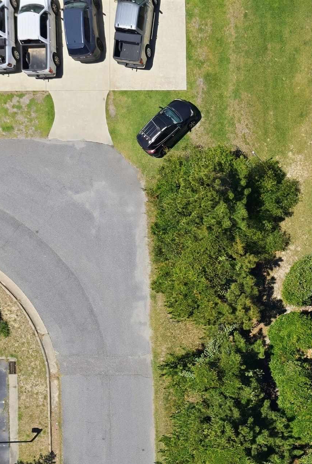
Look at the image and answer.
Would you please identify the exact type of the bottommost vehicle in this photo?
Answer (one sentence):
What you see as the bottommost vehicle is a car.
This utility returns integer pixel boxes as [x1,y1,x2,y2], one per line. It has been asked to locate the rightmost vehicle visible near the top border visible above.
[117,0,163,67]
